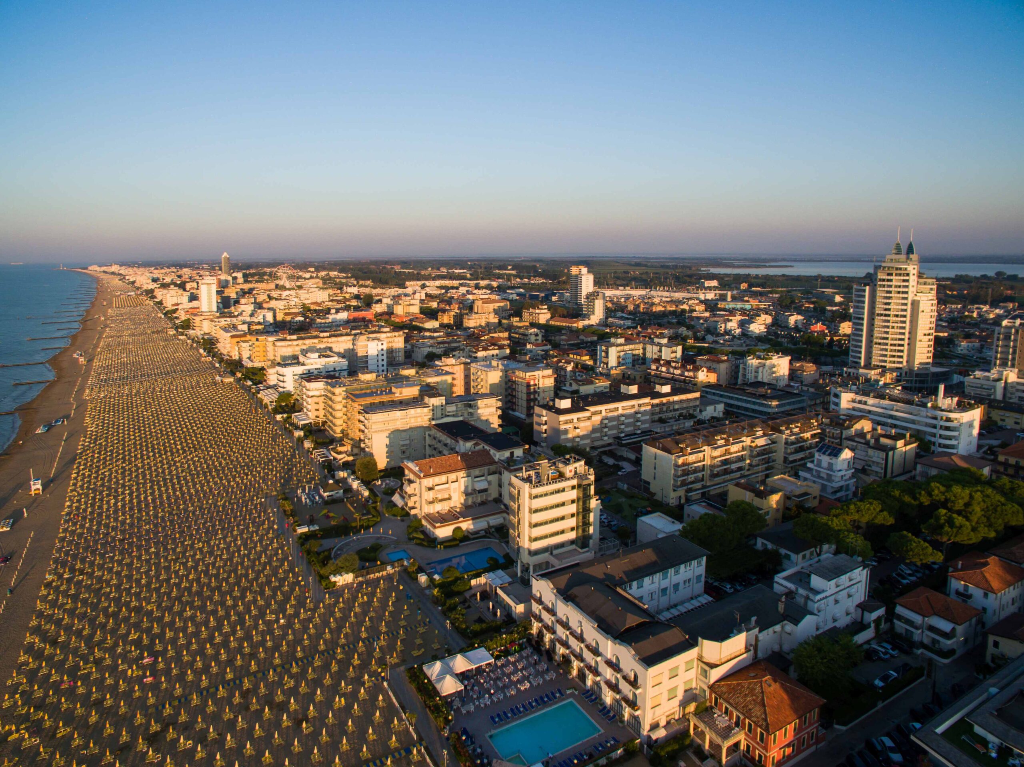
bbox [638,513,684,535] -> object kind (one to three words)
building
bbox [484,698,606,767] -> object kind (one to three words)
swimming pool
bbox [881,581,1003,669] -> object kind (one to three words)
house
